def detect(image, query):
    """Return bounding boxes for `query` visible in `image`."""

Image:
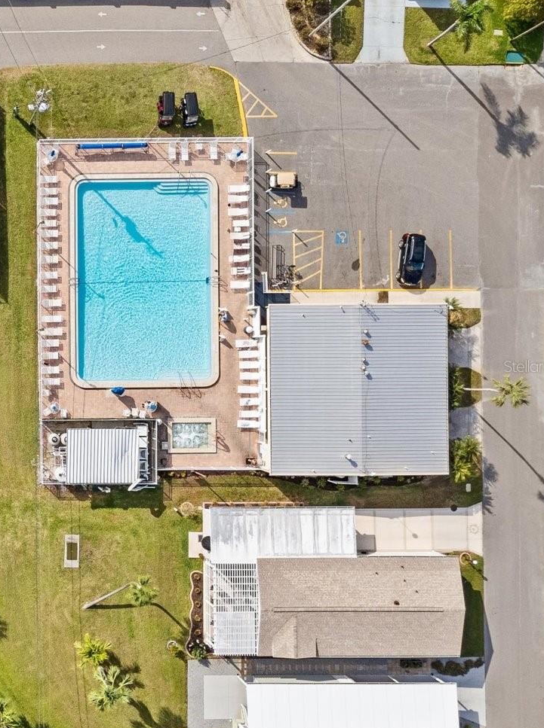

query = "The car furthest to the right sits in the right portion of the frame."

[400,233,432,287]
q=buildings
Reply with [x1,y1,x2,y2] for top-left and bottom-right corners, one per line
[228,680,460,728]
[263,300,451,477]
[205,506,465,659]
[67,429,139,485]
